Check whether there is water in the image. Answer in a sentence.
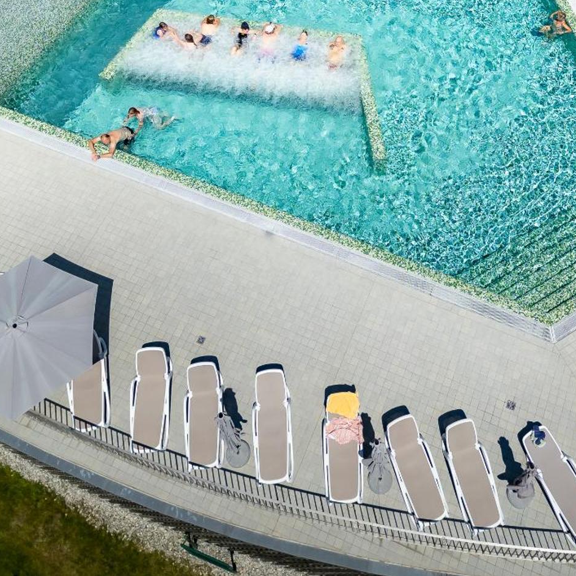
Yes, water shows up in the scene.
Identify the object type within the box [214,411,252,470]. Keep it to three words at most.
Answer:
umbrella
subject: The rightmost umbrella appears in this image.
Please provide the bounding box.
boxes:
[504,458,539,514]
